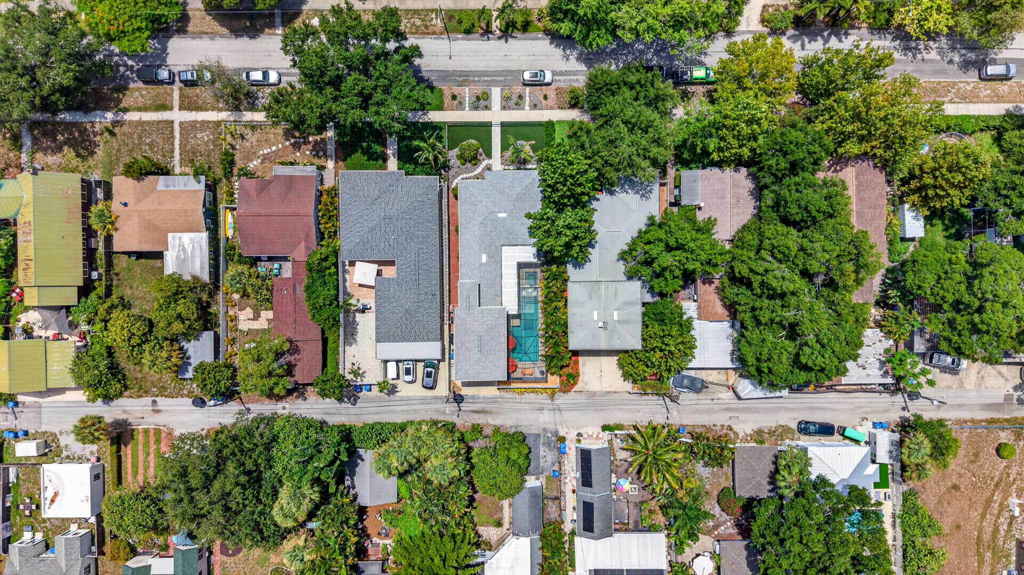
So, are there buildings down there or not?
Yes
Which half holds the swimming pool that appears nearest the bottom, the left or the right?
right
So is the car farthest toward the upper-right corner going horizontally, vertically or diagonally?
horizontally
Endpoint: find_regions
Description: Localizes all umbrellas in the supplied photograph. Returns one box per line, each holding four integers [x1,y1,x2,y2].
[507,357,519,374]
[352,261,379,288]
[615,476,630,491]
[692,554,713,575]
[506,336,517,351]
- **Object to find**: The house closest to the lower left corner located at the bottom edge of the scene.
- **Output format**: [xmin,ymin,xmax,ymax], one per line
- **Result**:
[9,527,100,575]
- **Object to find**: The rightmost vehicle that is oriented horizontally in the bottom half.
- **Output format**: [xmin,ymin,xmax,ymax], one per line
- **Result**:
[924,352,964,372]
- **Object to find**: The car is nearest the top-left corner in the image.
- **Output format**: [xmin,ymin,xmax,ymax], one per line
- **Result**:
[136,66,175,85]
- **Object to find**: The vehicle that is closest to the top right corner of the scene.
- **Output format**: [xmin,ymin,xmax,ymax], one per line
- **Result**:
[976,62,1014,82]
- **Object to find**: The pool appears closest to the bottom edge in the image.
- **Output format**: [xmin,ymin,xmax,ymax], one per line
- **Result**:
[843,507,886,534]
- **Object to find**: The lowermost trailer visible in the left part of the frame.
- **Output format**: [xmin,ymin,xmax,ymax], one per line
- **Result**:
[16,436,60,456]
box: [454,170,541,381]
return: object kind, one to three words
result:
house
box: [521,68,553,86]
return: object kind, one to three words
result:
car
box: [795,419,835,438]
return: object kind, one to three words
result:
car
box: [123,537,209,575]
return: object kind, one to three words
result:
building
